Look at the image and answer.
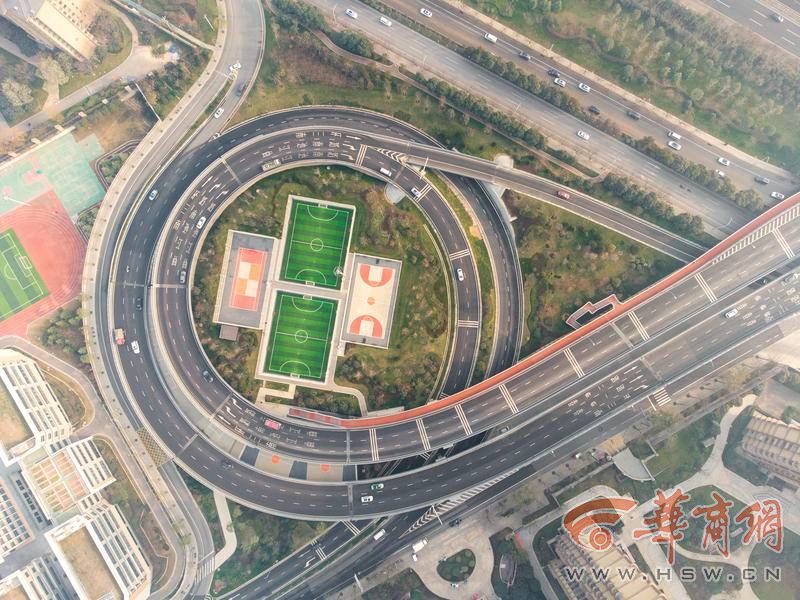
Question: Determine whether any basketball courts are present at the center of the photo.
Yes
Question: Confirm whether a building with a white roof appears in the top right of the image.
No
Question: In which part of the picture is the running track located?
left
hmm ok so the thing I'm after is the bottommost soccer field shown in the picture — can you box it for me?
[264,291,338,382]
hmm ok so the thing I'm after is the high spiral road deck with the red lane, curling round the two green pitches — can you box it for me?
[151,126,800,466]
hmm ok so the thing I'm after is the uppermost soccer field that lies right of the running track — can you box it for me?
[279,199,353,292]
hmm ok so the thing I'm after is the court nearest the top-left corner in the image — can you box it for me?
[0,133,112,214]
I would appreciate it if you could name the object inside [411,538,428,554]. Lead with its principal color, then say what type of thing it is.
white vehicle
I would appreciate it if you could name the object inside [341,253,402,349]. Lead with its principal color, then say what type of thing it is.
white basketball court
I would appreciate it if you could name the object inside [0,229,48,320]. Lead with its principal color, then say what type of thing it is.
green sports field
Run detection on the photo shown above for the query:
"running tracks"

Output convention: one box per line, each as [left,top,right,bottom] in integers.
[0,189,88,346]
